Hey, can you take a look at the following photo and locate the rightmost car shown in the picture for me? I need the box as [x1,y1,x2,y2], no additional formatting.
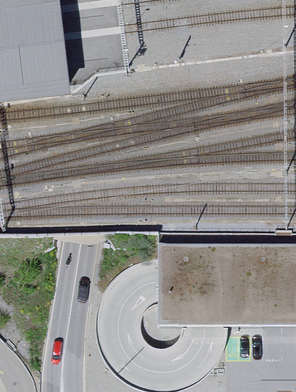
[251,333,263,359]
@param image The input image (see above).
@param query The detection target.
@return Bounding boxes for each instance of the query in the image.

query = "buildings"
[0,0,70,102]
[158,243,296,329]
